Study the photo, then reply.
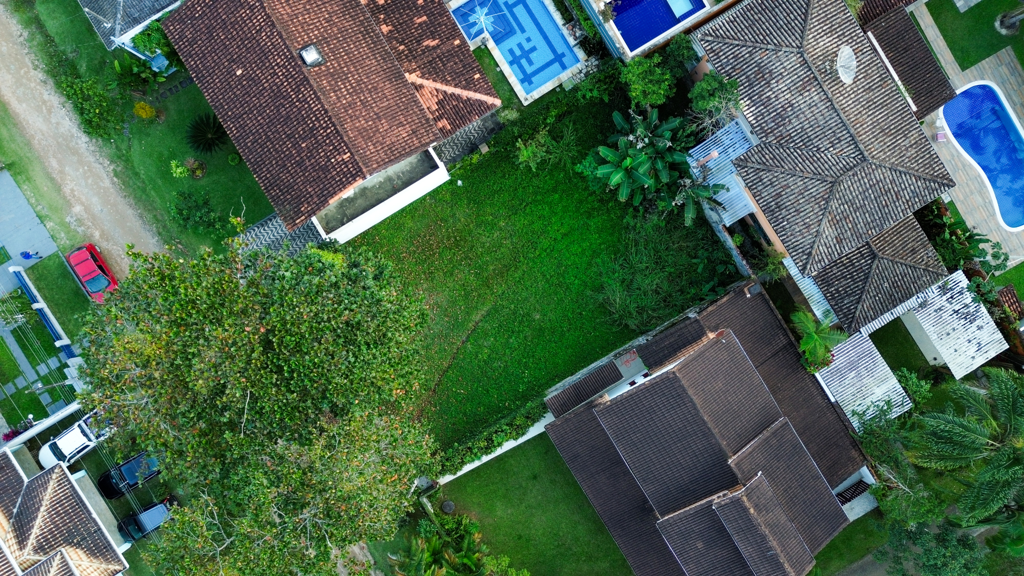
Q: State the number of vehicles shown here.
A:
four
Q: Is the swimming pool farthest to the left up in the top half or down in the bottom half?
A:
top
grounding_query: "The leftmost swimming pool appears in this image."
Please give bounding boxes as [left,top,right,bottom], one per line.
[447,0,587,108]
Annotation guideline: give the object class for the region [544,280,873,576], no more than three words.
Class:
house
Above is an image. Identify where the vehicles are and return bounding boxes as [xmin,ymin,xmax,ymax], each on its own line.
[103,444,178,498]
[35,400,127,468]
[68,235,126,302]
[122,490,176,542]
